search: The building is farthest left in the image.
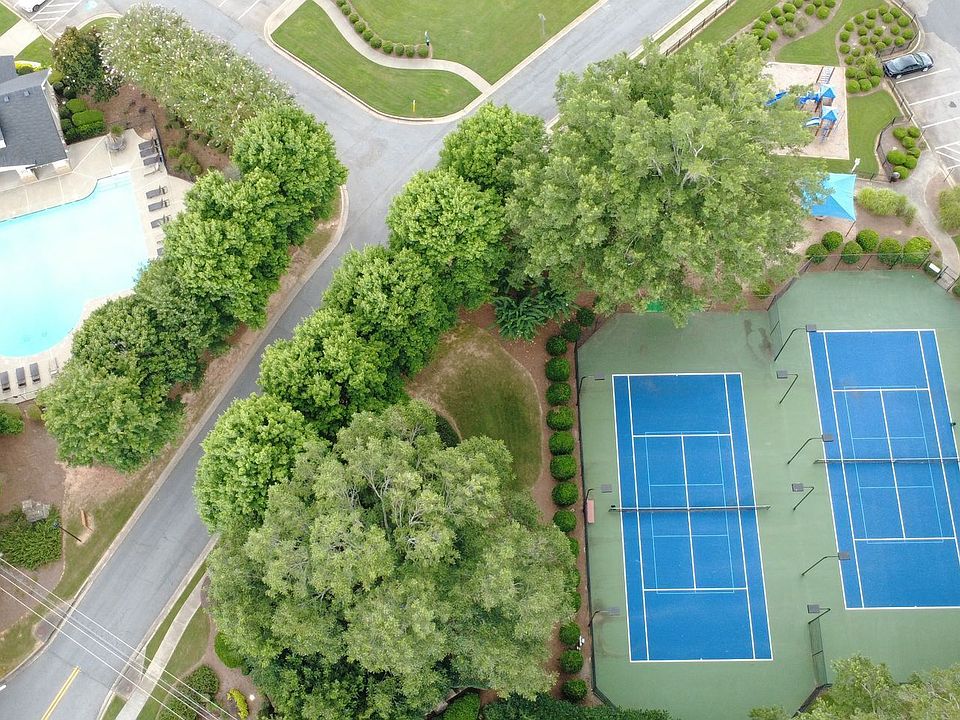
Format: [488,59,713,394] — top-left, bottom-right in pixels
[0,53,69,178]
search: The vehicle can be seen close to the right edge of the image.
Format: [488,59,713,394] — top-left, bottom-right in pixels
[883,52,936,81]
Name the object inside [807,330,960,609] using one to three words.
tennis court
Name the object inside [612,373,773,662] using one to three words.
tennis court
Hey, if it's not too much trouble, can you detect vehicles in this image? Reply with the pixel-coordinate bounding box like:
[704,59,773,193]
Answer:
[19,0,47,13]
[883,52,936,81]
